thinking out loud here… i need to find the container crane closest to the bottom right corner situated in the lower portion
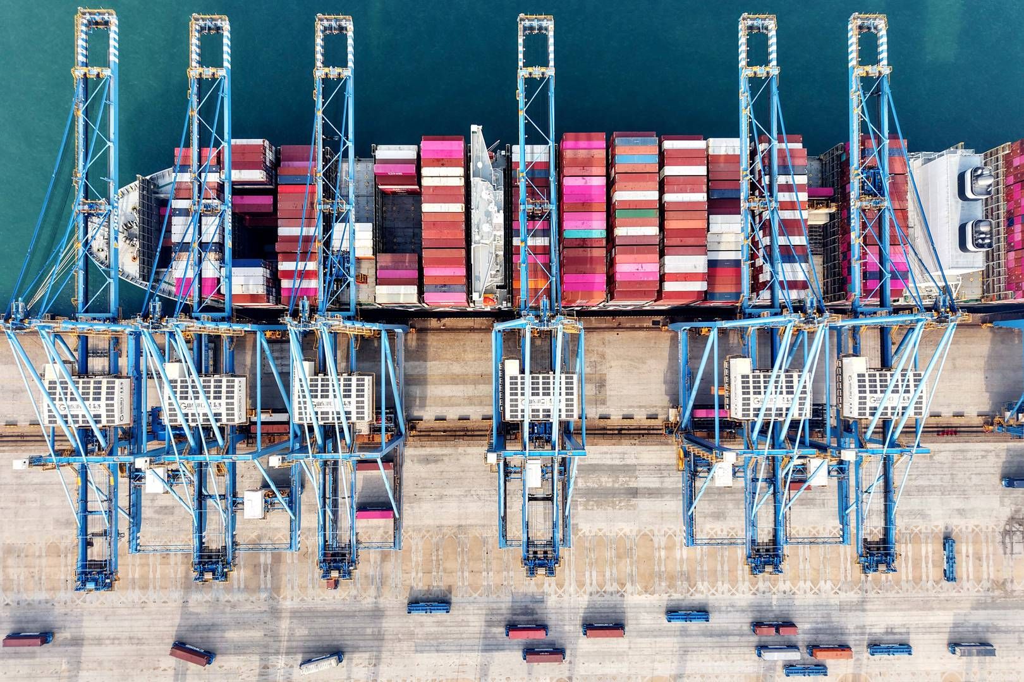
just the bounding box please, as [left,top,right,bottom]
[990,323,1024,548]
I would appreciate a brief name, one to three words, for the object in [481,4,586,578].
container crane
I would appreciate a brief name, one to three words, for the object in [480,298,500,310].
boat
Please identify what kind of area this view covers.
port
